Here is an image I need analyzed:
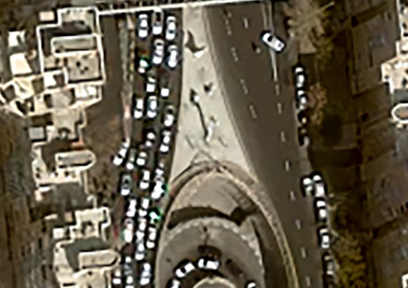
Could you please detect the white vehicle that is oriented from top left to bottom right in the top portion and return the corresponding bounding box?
[262,33,285,51]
